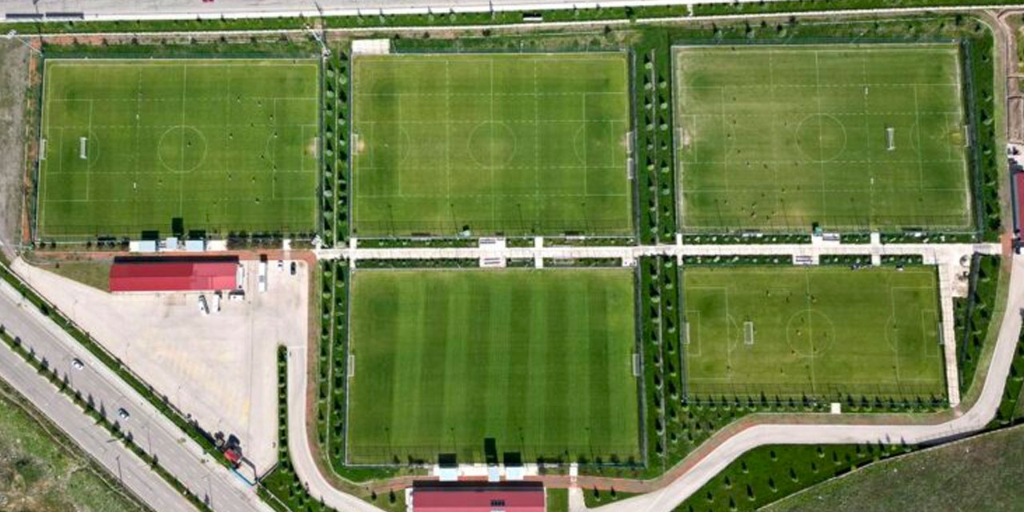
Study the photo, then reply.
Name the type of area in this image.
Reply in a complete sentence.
It's a sports ground.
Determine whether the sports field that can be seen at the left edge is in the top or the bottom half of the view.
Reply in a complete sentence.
The sports field that can be seen at the left edge sits in the top half of the picture.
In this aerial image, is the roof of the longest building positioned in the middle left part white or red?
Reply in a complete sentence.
The roof of the longest building positioned in the middle left part is red.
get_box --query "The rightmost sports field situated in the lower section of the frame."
[684,265,948,402]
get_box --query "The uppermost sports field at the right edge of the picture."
[674,44,975,234]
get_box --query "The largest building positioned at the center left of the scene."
[109,262,241,292]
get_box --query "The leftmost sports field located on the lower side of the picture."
[346,268,642,466]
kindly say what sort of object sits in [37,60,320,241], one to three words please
sports field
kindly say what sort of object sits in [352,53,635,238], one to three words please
sports field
